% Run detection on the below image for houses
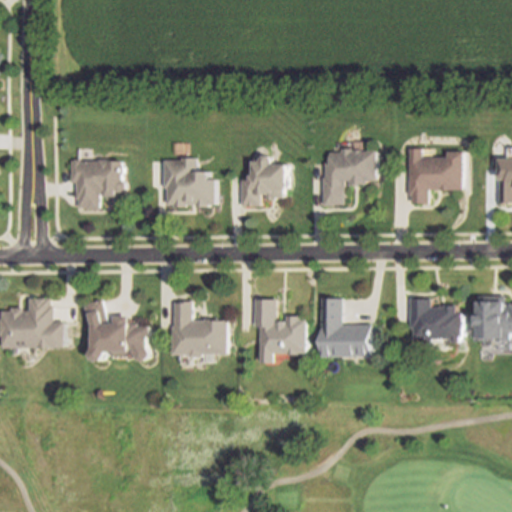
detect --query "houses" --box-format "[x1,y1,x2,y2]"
[321,141,378,206]
[468,295,512,345]
[496,146,512,204]
[86,301,148,363]
[408,297,464,342]
[240,156,288,207]
[407,148,466,204]
[254,299,309,364]
[314,298,374,357]
[164,142,218,210]
[71,160,126,210]
[0,298,65,349]
[171,302,230,356]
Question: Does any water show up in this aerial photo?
No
